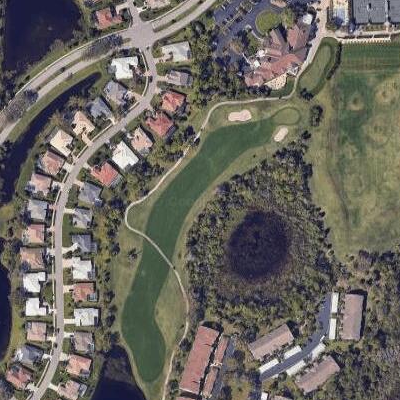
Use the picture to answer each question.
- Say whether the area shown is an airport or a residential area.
residential area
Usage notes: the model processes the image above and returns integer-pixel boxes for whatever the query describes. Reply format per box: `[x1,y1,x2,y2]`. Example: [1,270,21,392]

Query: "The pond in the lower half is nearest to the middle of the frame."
[229,211,289,278]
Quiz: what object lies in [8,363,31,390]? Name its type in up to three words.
house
